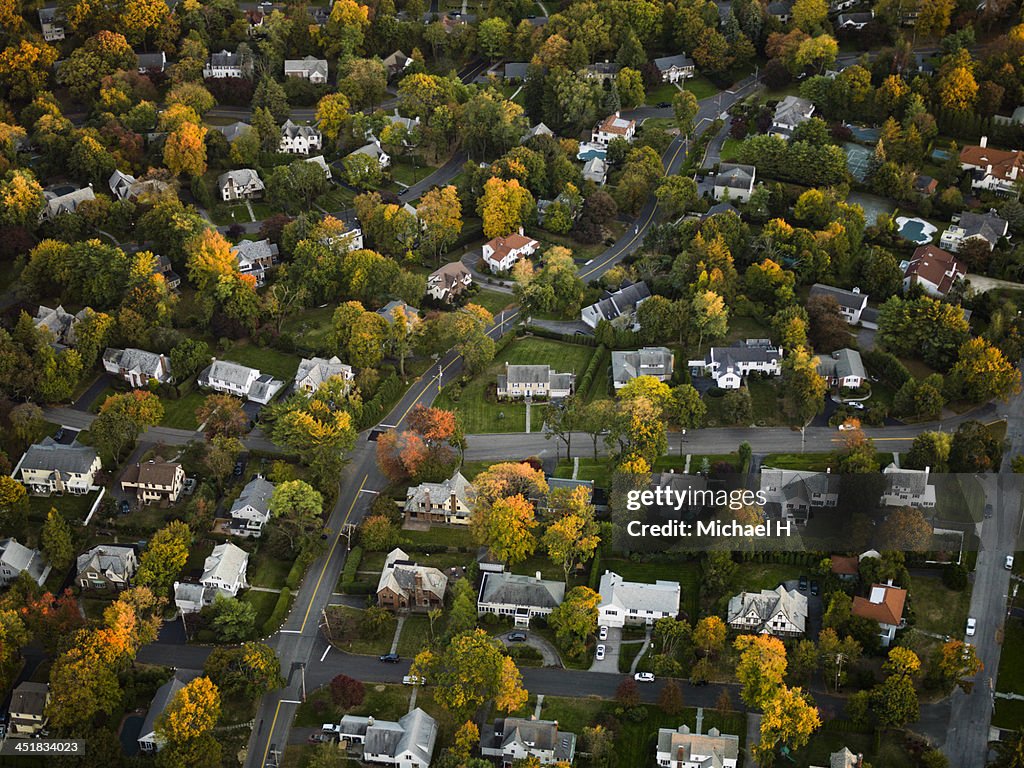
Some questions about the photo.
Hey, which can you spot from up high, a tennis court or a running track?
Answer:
tennis court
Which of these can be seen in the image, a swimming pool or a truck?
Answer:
swimming pool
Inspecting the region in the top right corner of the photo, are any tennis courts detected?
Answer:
Yes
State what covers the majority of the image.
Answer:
trees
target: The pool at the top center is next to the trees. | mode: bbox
[577,143,609,161]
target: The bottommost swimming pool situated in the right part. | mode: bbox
[896,216,937,244]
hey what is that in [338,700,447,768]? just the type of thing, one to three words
house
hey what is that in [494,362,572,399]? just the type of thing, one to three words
house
